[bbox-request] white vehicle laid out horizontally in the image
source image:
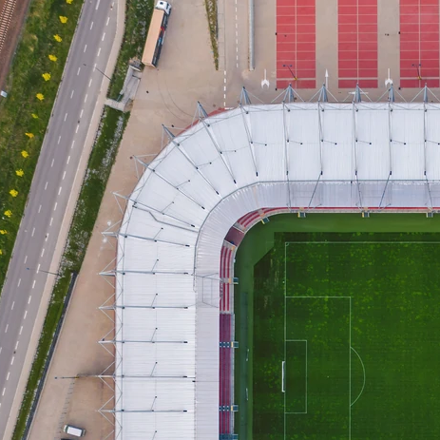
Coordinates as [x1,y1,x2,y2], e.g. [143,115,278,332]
[65,424,87,437]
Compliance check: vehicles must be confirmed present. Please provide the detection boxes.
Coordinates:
[140,1,169,65]
[65,424,87,437]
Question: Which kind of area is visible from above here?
sports ground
